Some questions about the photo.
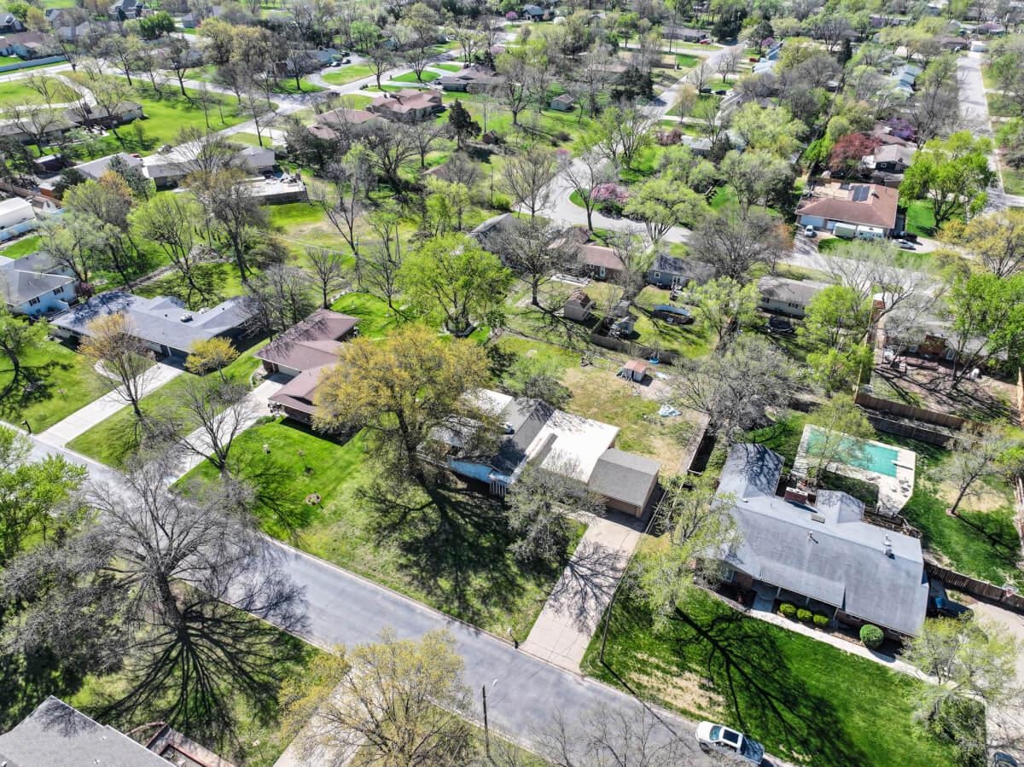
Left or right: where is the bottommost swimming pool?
right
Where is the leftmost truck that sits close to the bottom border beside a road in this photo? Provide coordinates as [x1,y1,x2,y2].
[694,721,769,767]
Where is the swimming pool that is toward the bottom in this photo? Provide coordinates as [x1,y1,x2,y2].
[790,424,915,515]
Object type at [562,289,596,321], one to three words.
shed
